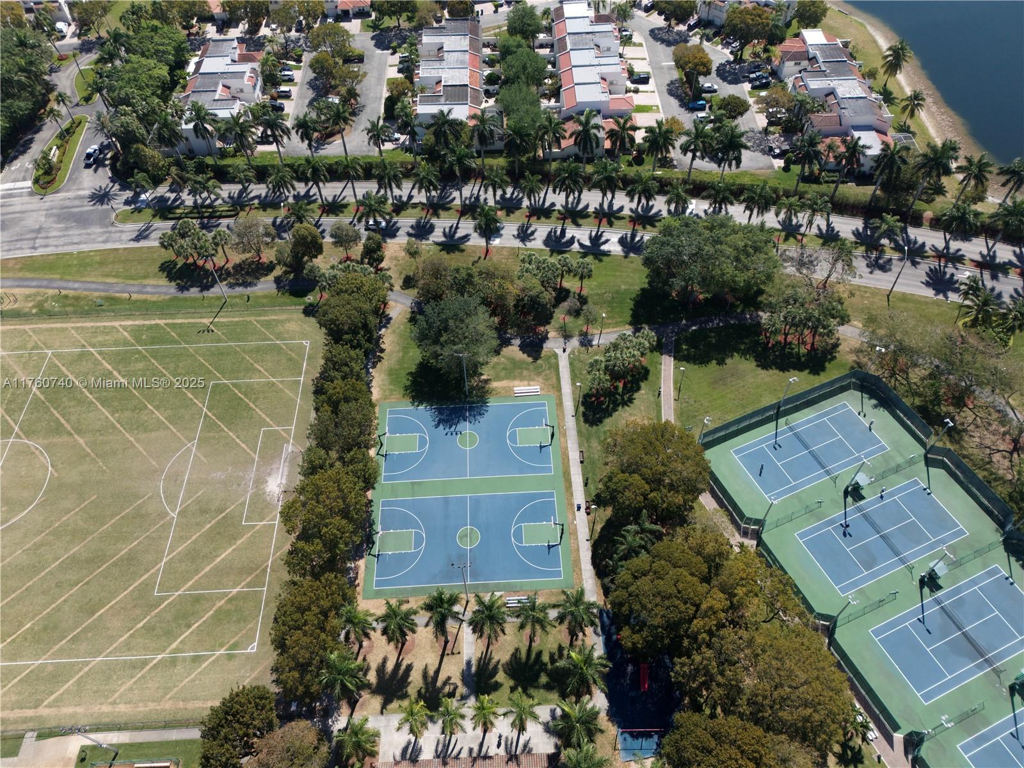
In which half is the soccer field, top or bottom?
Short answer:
bottom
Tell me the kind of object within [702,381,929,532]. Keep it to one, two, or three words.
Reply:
tennis court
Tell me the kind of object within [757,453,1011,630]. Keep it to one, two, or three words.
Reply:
tennis court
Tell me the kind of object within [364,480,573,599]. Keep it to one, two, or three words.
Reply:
basketball court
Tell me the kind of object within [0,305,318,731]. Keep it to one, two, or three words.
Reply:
soccer field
